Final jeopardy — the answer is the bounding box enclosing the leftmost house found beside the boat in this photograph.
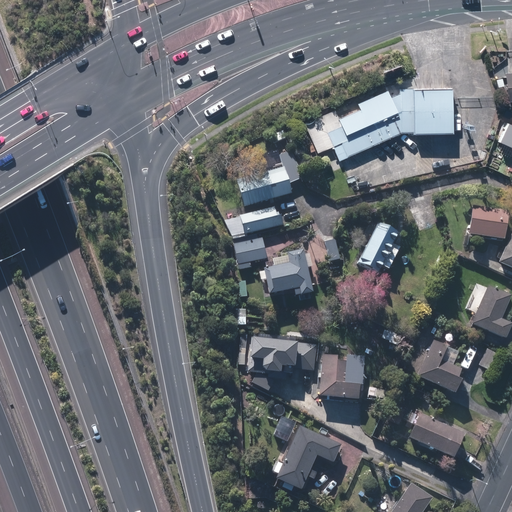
[419,340,467,392]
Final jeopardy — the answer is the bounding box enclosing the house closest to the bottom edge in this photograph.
[392,482,434,512]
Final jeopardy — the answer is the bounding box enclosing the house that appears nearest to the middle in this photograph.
[234,237,267,269]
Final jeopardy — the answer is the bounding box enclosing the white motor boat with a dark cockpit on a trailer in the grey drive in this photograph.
[460,347,476,369]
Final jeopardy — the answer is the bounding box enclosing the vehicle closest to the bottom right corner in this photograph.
[465,454,484,472]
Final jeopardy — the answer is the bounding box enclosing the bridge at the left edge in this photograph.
[0,70,74,214]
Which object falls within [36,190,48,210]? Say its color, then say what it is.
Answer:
blue vehicle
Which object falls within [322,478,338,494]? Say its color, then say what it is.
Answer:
white car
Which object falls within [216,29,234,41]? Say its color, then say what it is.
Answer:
white vehicle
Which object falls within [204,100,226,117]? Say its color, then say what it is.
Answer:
white vehicle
